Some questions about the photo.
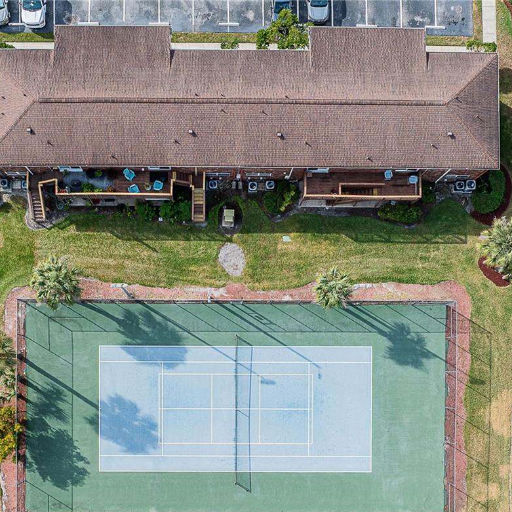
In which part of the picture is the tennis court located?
bottom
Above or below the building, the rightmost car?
above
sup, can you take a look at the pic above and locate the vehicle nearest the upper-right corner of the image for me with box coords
[305,0,333,26]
